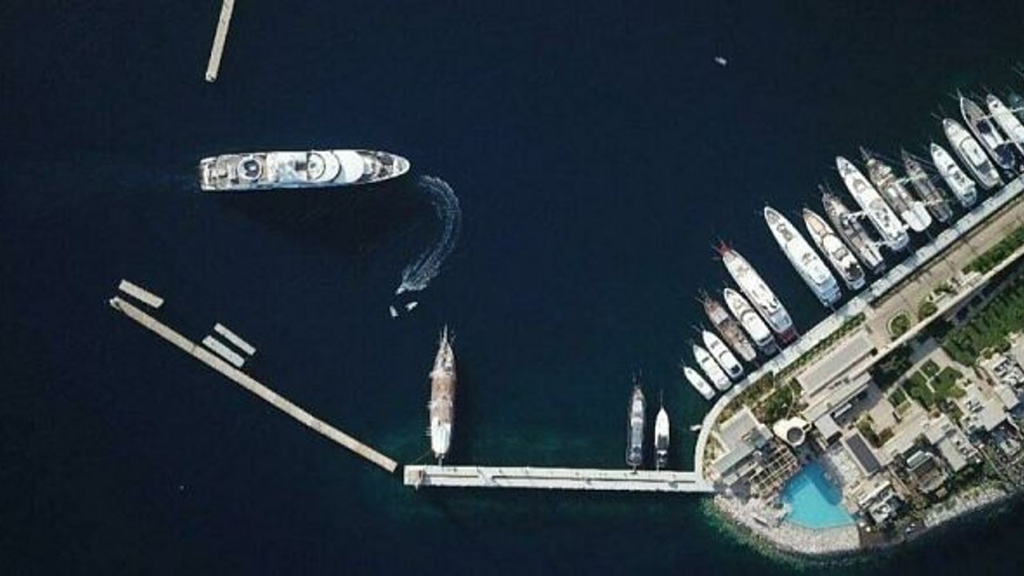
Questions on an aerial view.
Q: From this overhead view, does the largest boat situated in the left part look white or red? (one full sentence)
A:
The largest boat situated in the left part looks white in the image.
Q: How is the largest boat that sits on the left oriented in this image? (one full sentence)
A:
The largest boat that sits on the left is oriented horizontally.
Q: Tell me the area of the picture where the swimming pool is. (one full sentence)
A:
The swimming pool sits in the bottom right section of the image.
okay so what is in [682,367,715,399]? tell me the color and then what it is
white boat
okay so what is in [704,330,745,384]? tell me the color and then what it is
white boat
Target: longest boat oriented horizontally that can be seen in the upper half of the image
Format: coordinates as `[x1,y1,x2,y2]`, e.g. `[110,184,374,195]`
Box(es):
[200,149,409,190]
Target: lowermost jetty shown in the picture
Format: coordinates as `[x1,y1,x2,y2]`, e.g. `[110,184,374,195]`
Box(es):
[404,465,694,493]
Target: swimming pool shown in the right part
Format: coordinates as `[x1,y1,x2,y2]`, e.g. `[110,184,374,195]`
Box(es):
[783,462,856,530]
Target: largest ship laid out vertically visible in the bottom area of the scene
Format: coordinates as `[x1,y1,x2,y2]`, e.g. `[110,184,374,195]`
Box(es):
[429,322,457,464]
